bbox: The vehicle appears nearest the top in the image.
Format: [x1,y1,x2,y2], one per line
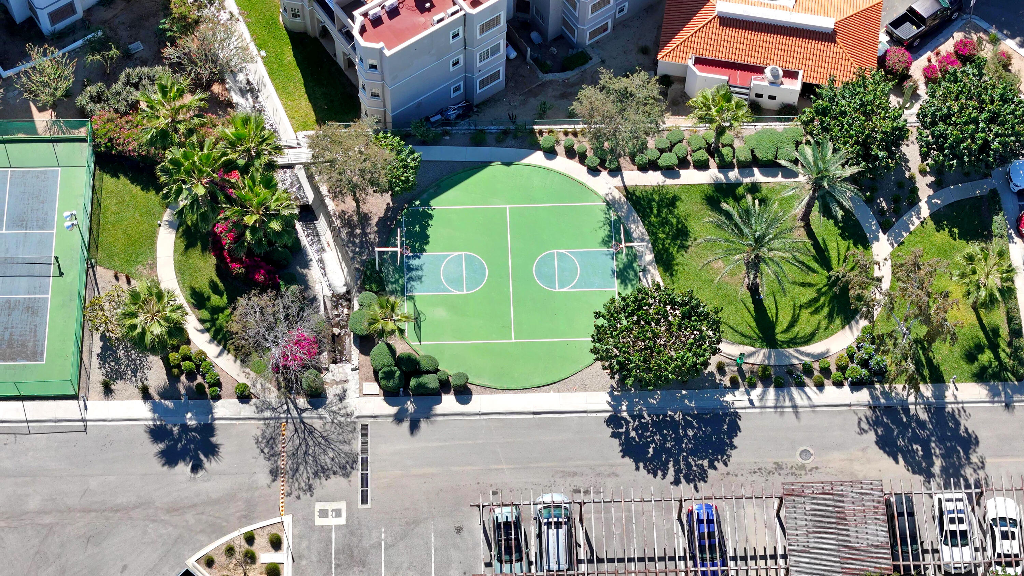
[884,0,966,47]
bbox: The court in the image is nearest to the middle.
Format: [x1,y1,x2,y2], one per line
[380,162,641,390]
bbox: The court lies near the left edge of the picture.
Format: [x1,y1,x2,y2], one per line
[0,135,93,399]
